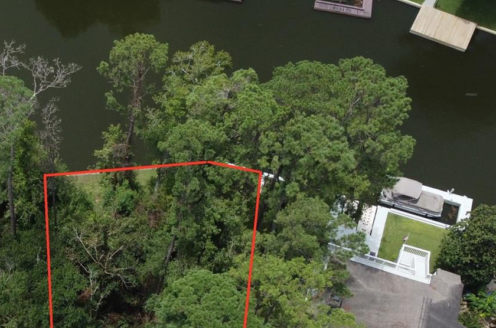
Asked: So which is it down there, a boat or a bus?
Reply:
boat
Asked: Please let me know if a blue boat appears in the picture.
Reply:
No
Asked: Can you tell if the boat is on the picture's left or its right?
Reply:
right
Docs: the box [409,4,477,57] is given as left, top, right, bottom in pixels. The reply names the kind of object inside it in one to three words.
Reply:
pier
